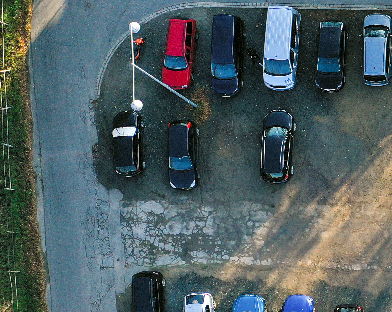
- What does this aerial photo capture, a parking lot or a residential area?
parking lot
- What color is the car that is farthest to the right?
blue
